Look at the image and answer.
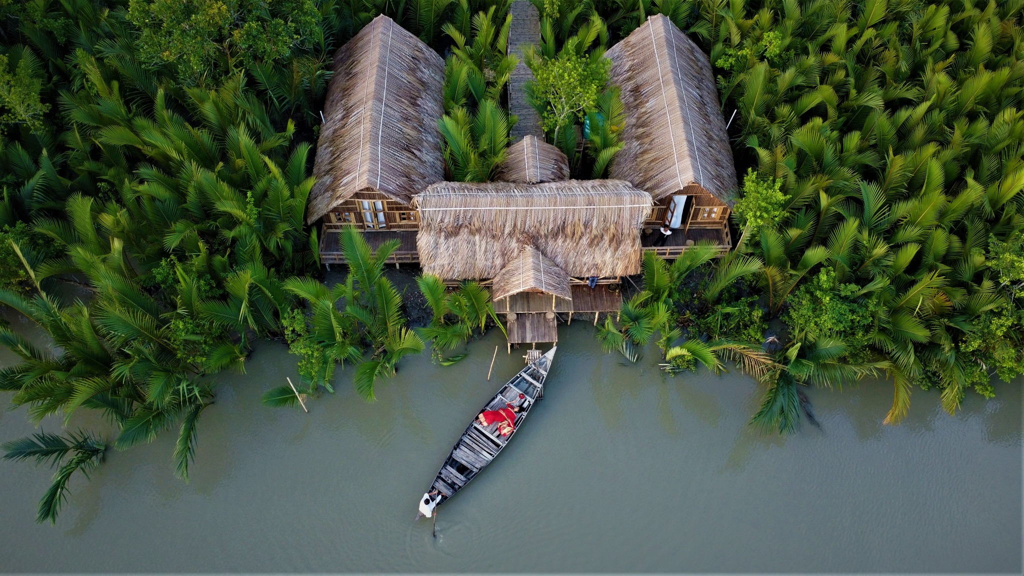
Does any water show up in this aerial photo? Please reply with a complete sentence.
Yes, water can be seen from above here.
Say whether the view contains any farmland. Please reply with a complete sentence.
No, farmland can't be seen anywhere here.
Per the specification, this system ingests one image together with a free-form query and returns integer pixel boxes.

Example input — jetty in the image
[508,313,558,354]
